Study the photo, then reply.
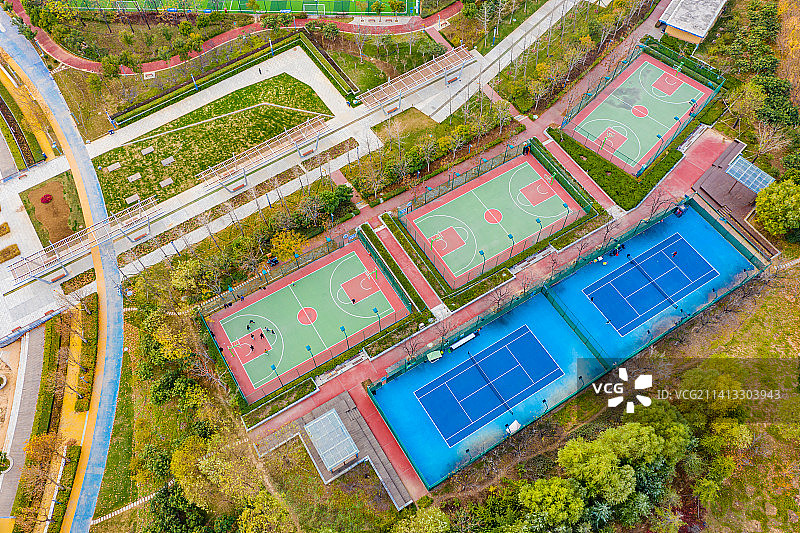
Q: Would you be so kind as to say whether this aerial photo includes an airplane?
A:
No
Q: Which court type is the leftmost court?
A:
basketball court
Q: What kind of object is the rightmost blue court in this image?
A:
tennis court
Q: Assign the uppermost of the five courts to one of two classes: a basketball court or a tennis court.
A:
basketball court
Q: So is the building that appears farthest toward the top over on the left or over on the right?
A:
right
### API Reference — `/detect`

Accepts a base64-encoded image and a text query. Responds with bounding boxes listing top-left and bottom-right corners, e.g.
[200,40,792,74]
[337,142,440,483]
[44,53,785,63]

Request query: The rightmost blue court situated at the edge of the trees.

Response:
[545,205,758,370]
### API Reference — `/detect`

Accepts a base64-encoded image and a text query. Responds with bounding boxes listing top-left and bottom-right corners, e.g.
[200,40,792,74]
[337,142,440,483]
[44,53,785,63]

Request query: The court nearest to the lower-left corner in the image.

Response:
[205,240,409,404]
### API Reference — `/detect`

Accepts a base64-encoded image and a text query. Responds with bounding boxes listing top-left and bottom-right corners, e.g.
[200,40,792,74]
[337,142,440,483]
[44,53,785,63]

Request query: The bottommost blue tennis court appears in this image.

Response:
[374,292,607,486]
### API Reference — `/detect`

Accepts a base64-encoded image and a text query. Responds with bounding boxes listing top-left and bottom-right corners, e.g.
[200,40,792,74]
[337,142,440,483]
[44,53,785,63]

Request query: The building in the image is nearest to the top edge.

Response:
[656,0,723,48]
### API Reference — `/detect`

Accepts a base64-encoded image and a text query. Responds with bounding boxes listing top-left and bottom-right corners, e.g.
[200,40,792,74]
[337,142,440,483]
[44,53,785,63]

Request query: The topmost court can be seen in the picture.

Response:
[561,52,716,177]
